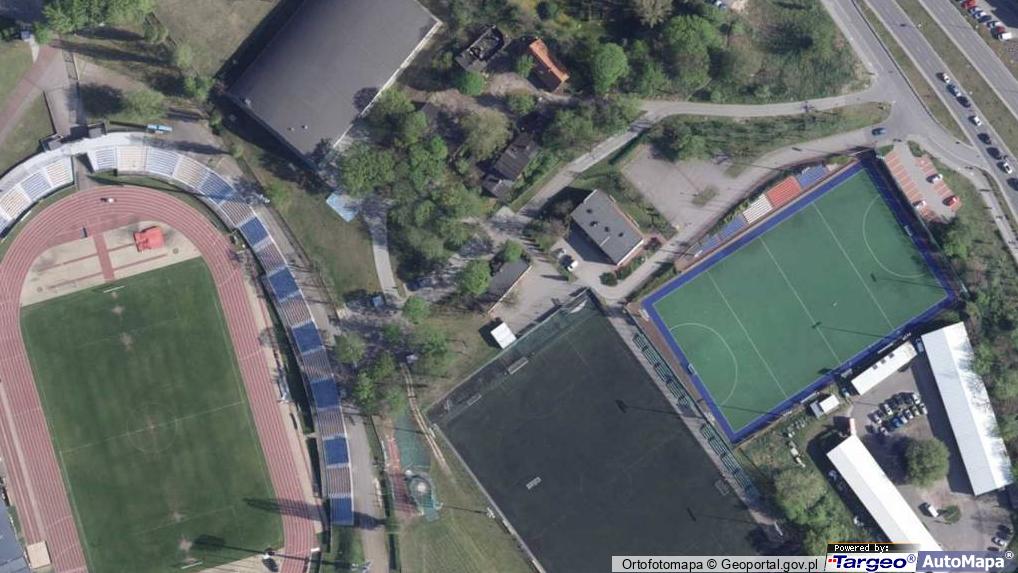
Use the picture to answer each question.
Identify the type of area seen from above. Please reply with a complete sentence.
The area seen from above is a sports ground.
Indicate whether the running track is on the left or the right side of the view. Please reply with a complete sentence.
The running track is on the left side of the image.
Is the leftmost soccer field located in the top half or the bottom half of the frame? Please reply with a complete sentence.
The leftmost soccer field sits in the bottom half of the picture.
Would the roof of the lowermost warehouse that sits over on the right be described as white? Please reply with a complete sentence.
Yes, the roof of the lowermost warehouse that sits over on the right is indeed white.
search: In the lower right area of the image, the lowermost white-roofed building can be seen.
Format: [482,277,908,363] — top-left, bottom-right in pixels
[827,435,956,573]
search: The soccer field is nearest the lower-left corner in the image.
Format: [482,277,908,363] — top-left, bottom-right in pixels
[21,258,282,573]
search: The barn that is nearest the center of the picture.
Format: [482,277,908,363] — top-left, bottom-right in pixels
[471,261,531,311]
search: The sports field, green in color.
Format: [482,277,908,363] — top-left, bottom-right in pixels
[642,155,957,443]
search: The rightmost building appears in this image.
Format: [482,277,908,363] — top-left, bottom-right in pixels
[921,322,1012,496]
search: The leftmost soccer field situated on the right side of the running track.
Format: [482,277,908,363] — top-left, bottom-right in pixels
[430,291,785,573]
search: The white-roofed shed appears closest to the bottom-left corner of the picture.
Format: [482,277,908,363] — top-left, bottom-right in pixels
[27,541,51,568]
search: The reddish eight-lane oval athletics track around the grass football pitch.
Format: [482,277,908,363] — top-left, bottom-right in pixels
[0,185,318,573]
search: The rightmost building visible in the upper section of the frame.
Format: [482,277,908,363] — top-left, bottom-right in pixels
[572,189,645,265]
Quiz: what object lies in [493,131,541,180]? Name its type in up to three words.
house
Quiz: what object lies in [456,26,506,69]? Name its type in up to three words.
house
